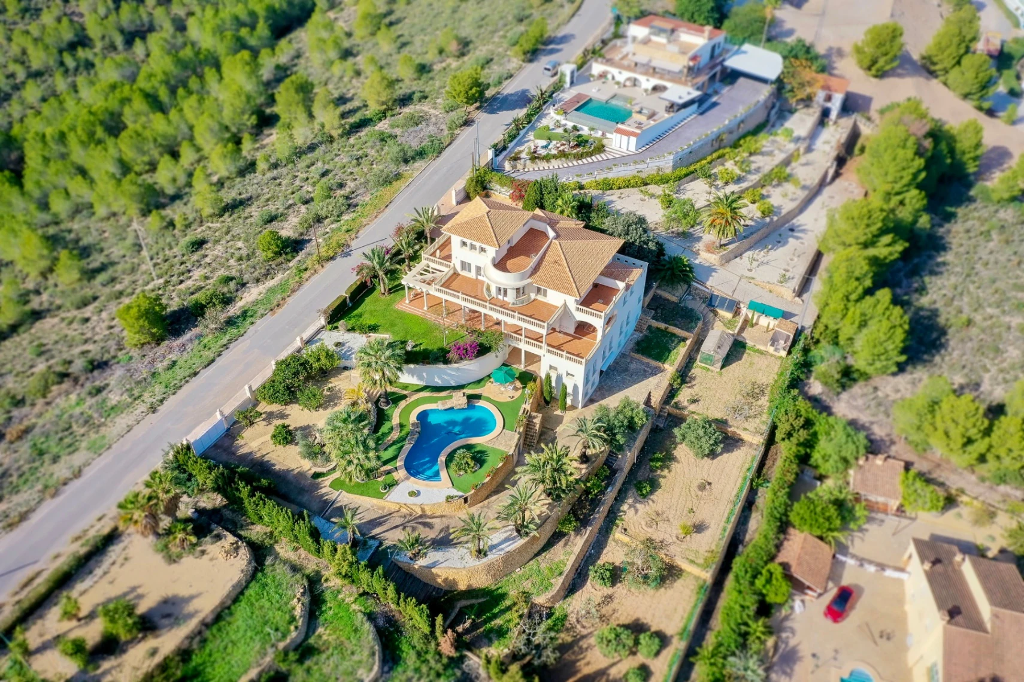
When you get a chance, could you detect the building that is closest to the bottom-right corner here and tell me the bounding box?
[895,538,1024,682]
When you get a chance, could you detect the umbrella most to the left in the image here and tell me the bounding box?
[490,365,518,392]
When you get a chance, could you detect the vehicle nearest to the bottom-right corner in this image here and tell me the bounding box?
[825,578,858,628]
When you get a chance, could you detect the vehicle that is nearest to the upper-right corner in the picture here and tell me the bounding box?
[539,61,563,76]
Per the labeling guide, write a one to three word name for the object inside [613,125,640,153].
shed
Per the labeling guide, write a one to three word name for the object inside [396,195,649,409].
house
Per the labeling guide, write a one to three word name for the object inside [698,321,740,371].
greenhouse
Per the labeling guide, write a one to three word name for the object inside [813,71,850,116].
shed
